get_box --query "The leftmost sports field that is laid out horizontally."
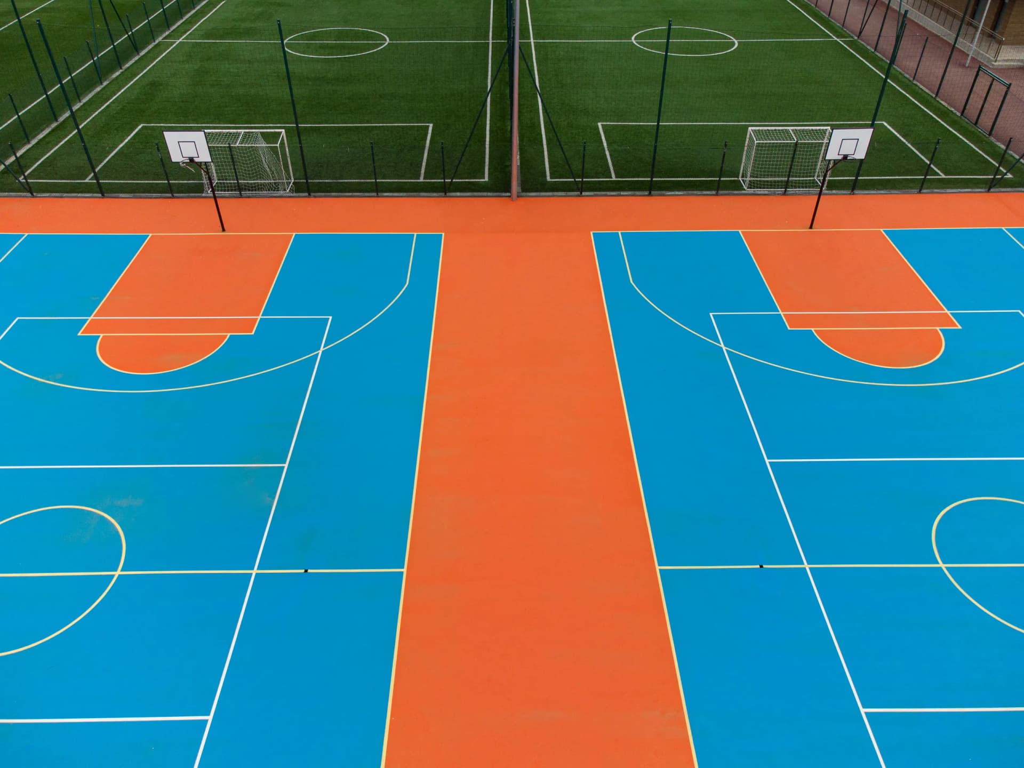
[0,0,510,193]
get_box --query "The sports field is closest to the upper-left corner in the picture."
[0,0,200,164]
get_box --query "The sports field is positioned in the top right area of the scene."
[516,0,1024,193]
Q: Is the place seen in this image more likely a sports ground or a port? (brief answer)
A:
sports ground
